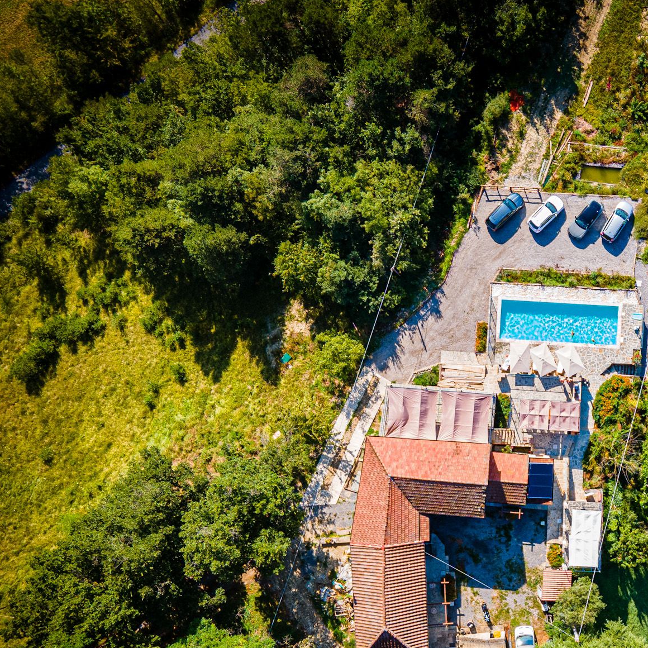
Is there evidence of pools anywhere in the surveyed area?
Yes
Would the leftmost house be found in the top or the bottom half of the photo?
bottom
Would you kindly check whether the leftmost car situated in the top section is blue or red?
blue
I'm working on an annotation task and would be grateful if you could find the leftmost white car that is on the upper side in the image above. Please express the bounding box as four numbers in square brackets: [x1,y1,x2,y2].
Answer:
[526,196,563,235]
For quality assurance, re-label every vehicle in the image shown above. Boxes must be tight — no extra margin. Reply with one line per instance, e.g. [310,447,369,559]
[482,603,492,621]
[485,192,524,234]
[513,623,537,648]
[599,201,631,244]
[568,198,604,241]
[526,196,563,235]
